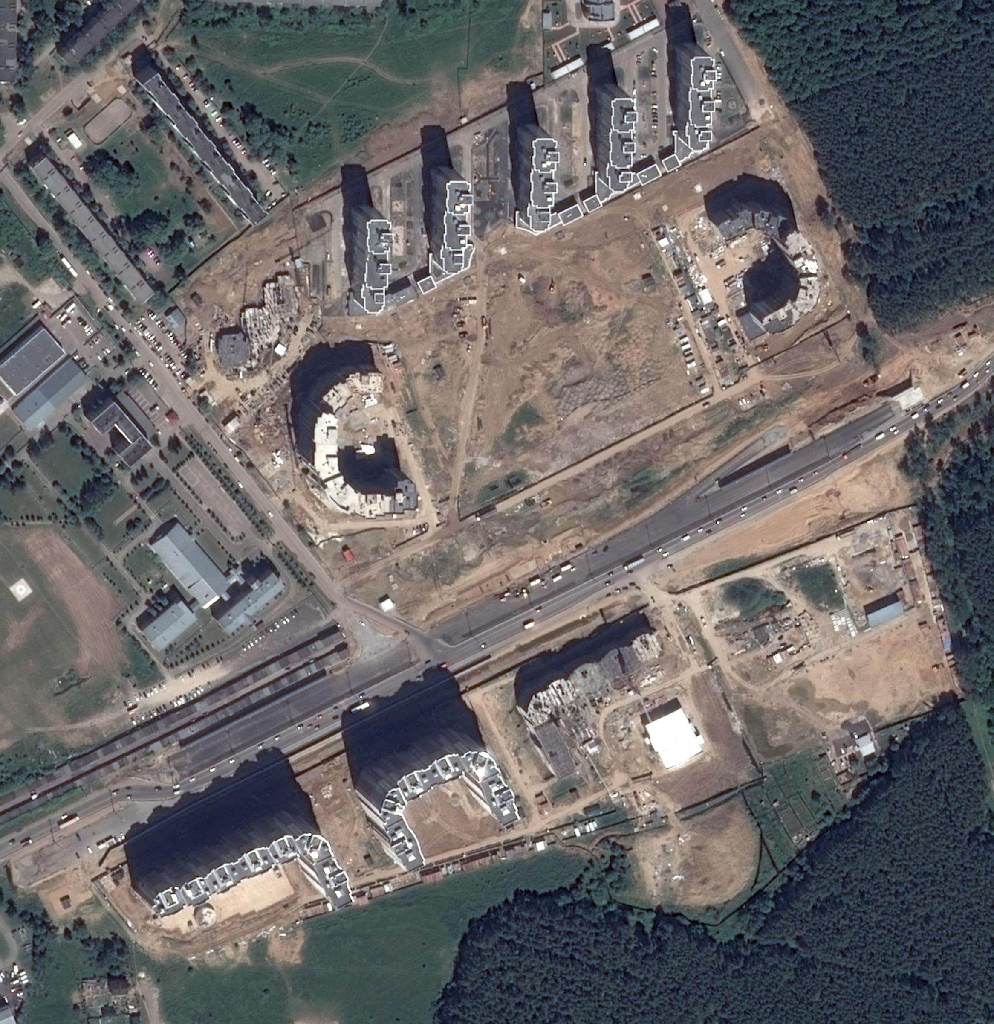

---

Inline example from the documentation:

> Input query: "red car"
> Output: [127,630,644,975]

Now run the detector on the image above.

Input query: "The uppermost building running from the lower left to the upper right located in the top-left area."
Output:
[57,0,140,67]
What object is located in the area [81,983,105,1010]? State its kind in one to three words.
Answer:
building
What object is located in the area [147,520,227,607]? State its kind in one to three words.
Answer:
building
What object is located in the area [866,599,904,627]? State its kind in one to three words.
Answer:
shed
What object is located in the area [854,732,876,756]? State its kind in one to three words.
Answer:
house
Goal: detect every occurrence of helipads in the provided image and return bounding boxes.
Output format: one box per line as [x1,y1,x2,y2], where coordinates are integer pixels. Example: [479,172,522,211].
[9,578,32,602]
